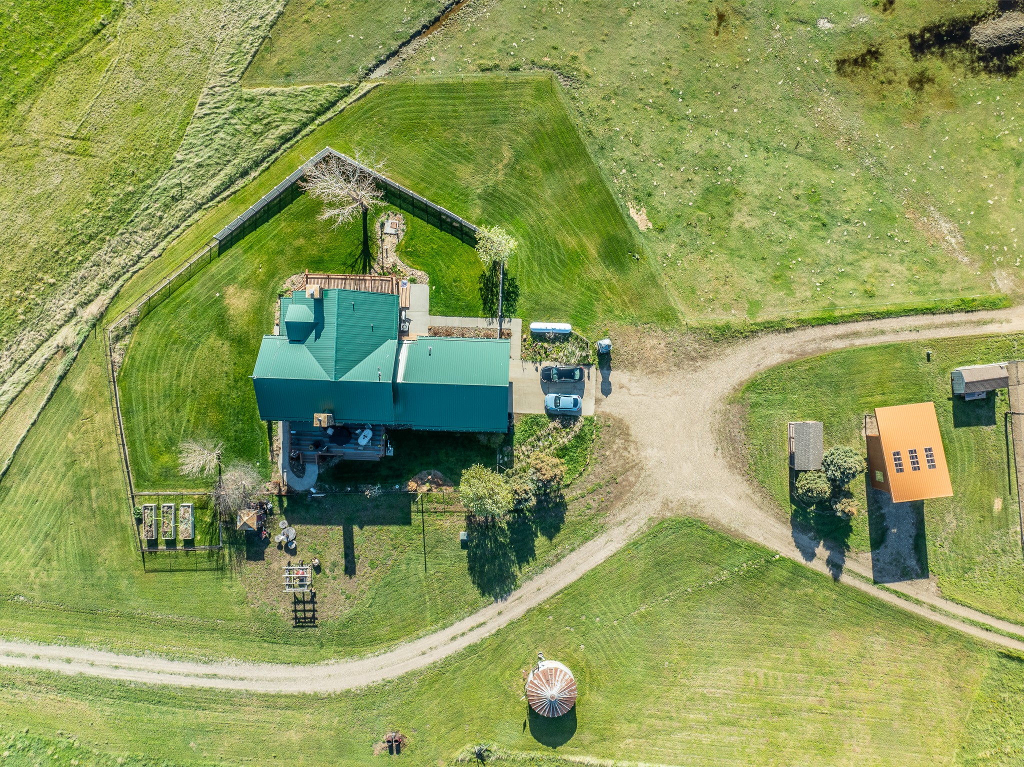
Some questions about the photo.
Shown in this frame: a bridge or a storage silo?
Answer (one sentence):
The one in the frame is a storage silo.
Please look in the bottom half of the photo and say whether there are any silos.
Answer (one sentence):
Yes, I can see a silo in the bottom half of the photo.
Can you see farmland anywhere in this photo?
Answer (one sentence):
Yes, there's farmland in this view.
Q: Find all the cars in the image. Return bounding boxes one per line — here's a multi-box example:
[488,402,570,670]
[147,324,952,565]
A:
[541,365,584,384]
[545,394,581,412]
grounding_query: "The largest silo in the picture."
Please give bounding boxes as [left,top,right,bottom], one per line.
[526,661,578,718]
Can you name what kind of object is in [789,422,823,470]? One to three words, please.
shed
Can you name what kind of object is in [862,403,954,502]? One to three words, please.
building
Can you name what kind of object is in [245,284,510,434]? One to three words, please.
house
